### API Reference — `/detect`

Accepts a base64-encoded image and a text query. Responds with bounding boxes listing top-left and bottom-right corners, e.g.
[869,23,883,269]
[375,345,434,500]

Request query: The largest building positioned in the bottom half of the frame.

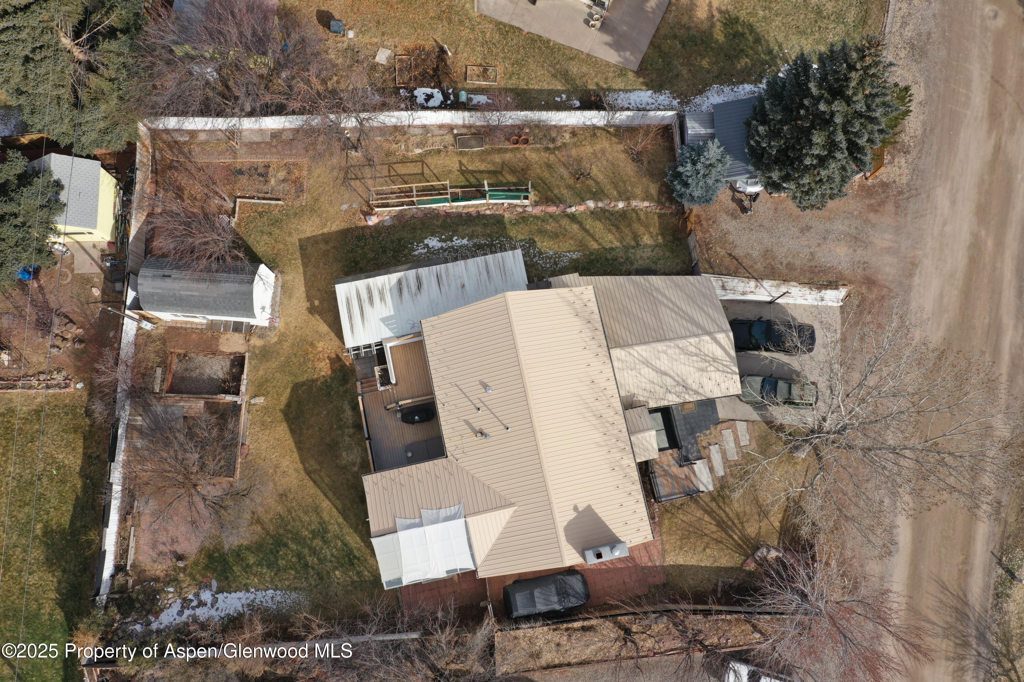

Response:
[363,283,658,580]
